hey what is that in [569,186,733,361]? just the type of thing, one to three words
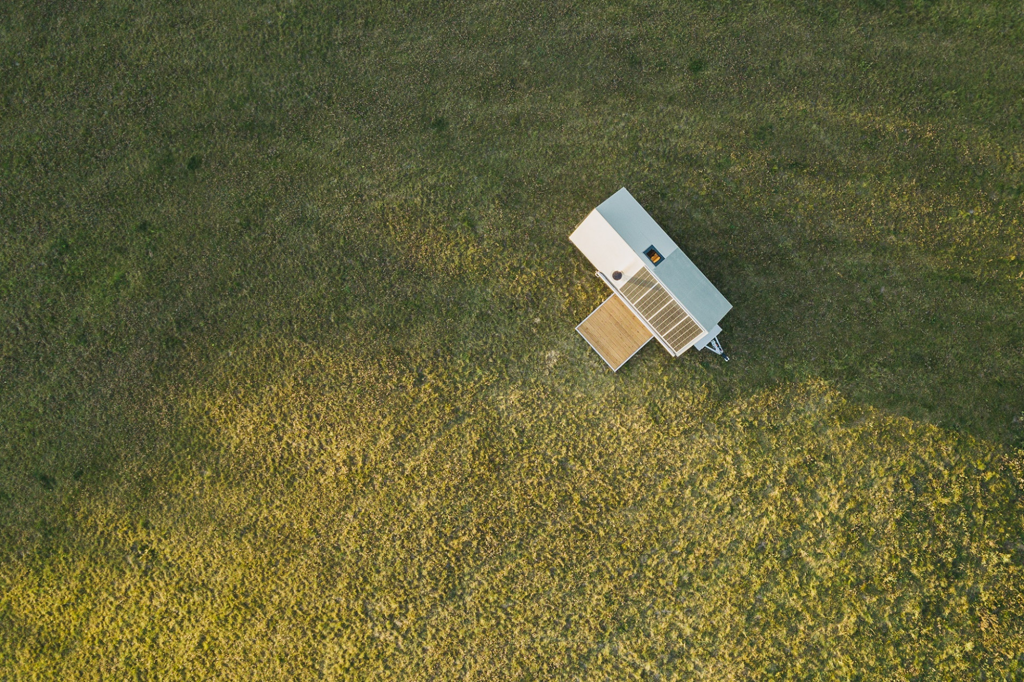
house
